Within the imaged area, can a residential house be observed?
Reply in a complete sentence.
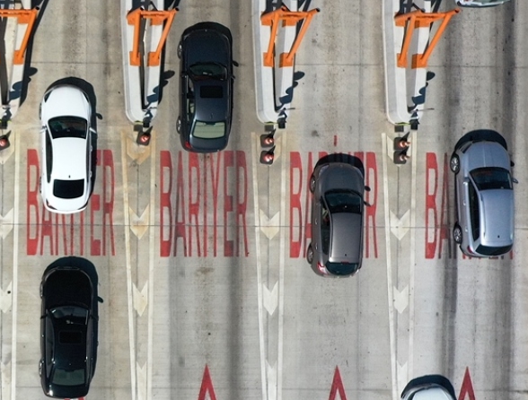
No, there appears to be no residential house in this shot.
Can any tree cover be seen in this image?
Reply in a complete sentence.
No, no tree cover is visible.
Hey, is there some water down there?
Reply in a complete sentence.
No, there's no water in this view.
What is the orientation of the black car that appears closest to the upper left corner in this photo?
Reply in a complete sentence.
In this picture, the black car that appears closest to the upper left corner is oriented from top to bottom.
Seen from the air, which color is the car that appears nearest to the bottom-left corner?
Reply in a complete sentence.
The car that appears nearest to the bottom-left corner looks black in the image.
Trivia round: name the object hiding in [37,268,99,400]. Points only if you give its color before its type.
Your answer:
black car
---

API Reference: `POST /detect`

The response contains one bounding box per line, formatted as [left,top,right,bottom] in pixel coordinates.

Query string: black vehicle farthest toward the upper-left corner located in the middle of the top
[177,28,239,152]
